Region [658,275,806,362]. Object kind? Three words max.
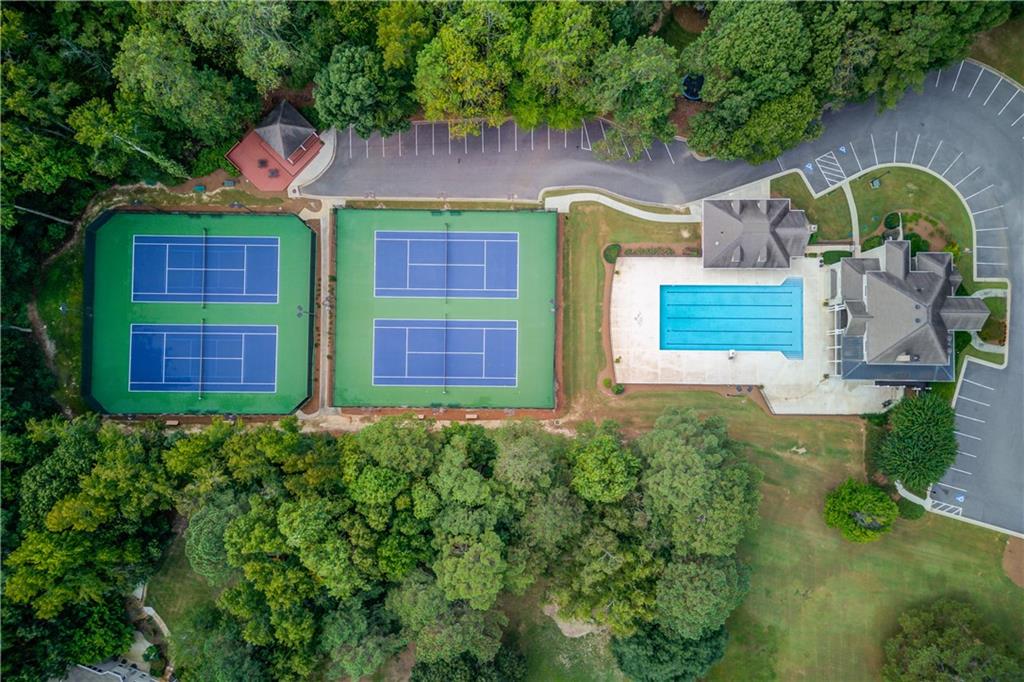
swimming pool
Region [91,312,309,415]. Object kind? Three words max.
tennis court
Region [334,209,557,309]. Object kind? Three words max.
tennis court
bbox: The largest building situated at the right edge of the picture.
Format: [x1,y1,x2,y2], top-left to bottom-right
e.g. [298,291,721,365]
[825,240,991,380]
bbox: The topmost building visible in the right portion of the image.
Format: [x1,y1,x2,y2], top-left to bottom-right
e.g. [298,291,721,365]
[700,200,817,269]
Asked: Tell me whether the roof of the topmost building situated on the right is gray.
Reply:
Yes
